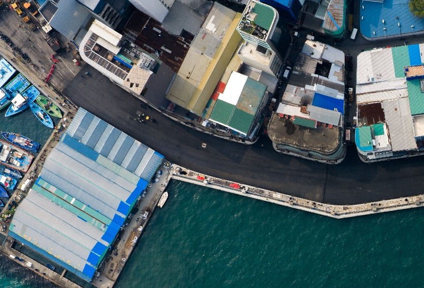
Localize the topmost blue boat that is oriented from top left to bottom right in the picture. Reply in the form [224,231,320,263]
[31,103,53,128]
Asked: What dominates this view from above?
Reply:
buildings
